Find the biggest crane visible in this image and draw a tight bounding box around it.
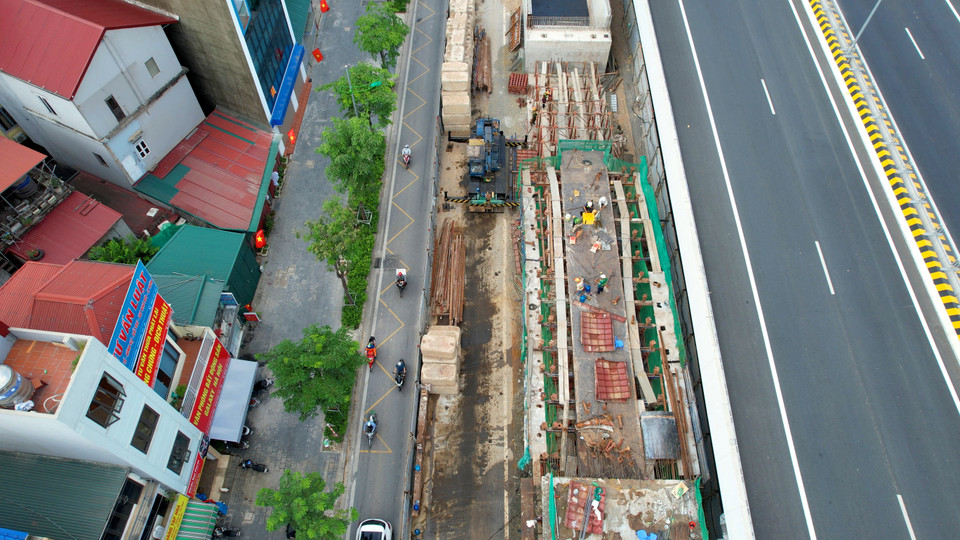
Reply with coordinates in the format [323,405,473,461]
[442,114,528,218]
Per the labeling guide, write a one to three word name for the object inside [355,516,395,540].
car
